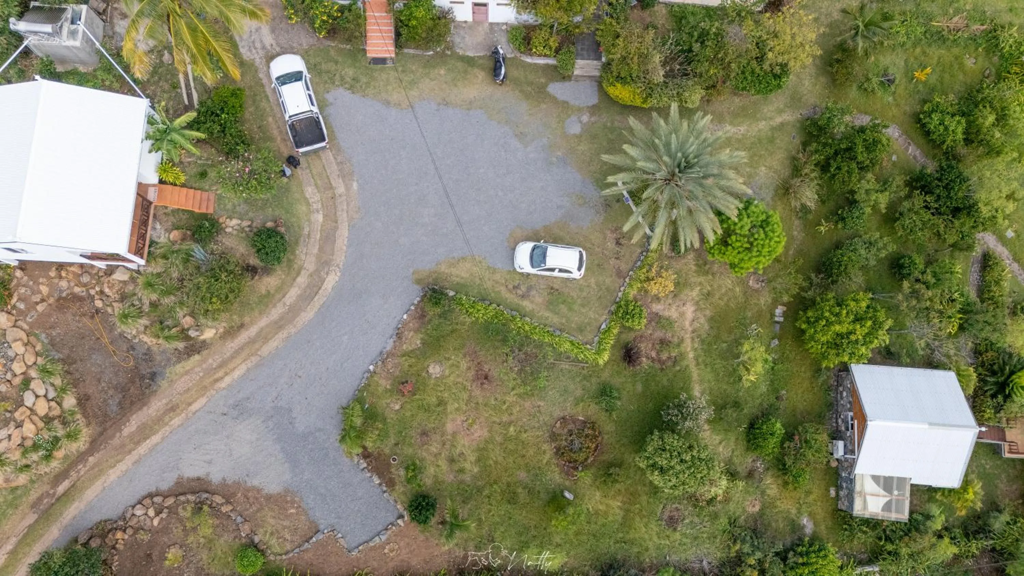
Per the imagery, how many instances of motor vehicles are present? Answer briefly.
3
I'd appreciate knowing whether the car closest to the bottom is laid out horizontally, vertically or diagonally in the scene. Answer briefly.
horizontally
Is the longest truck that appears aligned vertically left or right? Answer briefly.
left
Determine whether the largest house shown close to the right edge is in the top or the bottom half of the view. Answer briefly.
bottom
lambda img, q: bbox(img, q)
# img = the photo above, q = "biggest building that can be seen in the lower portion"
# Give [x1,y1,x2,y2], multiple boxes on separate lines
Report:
[834,364,989,489]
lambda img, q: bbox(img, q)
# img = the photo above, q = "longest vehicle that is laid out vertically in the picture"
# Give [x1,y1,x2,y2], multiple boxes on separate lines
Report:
[270,58,328,158]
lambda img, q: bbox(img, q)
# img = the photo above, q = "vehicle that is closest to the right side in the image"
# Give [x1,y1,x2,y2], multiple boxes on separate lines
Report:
[513,239,587,282]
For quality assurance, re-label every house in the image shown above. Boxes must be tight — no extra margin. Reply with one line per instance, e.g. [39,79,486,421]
[0,72,175,265]
[834,364,989,489]
[398,0,532,24]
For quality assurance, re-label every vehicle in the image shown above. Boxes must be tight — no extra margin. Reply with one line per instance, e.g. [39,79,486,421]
[513,239,587,282]
[270,58,328,158]
[486,41,507,84]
